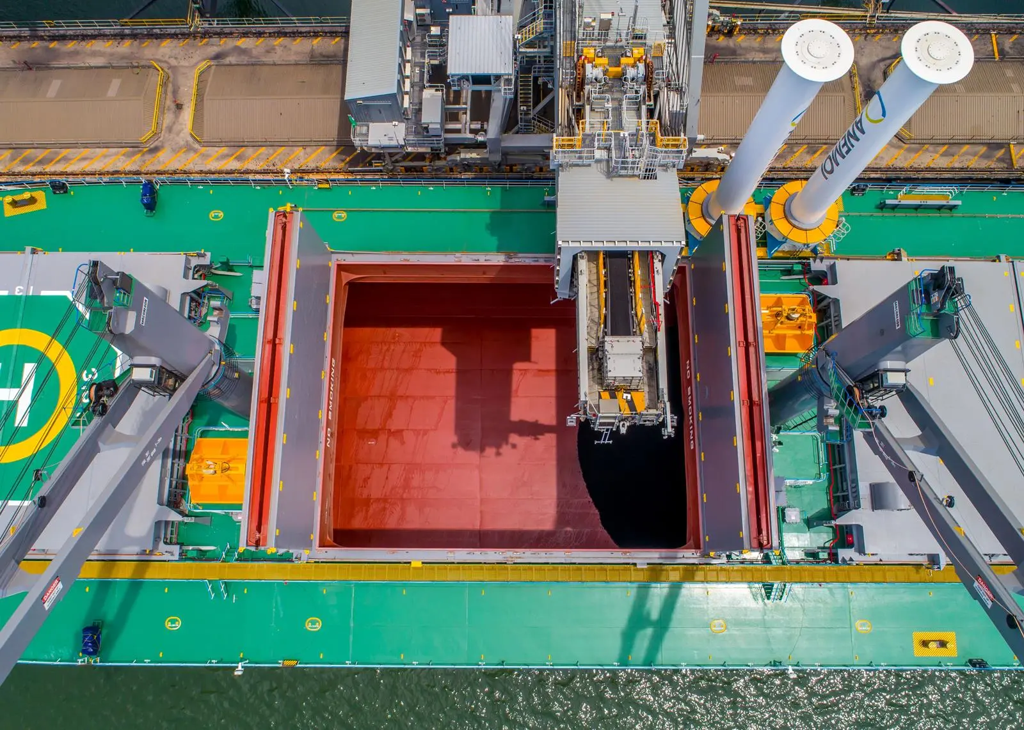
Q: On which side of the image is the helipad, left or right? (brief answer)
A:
left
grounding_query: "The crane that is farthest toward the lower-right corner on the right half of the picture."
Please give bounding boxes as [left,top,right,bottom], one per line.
[771,260,1024,635]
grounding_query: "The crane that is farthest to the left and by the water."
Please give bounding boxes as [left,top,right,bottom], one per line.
[0,249,259,677]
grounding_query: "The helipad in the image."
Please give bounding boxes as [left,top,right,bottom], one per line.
[0,287,128,507]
